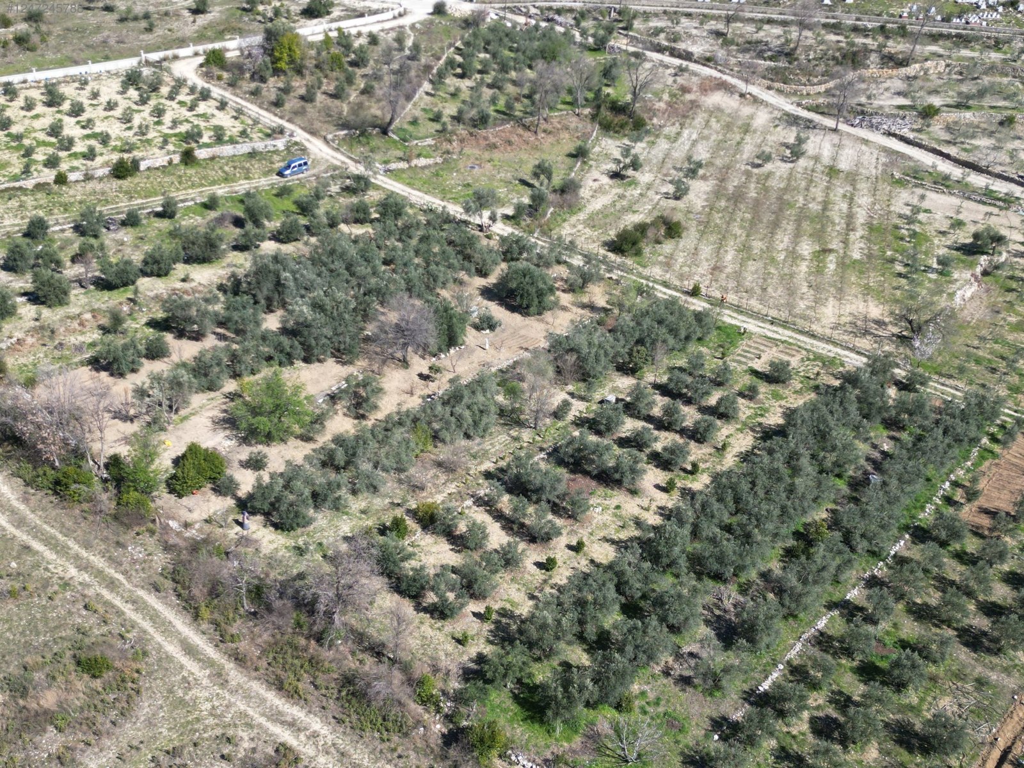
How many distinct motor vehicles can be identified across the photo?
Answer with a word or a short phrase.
1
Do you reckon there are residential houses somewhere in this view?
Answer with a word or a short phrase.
No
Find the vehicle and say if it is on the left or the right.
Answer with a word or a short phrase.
left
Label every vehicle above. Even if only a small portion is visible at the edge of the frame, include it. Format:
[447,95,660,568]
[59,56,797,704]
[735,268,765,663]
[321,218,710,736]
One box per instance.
[275,155,314,176]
